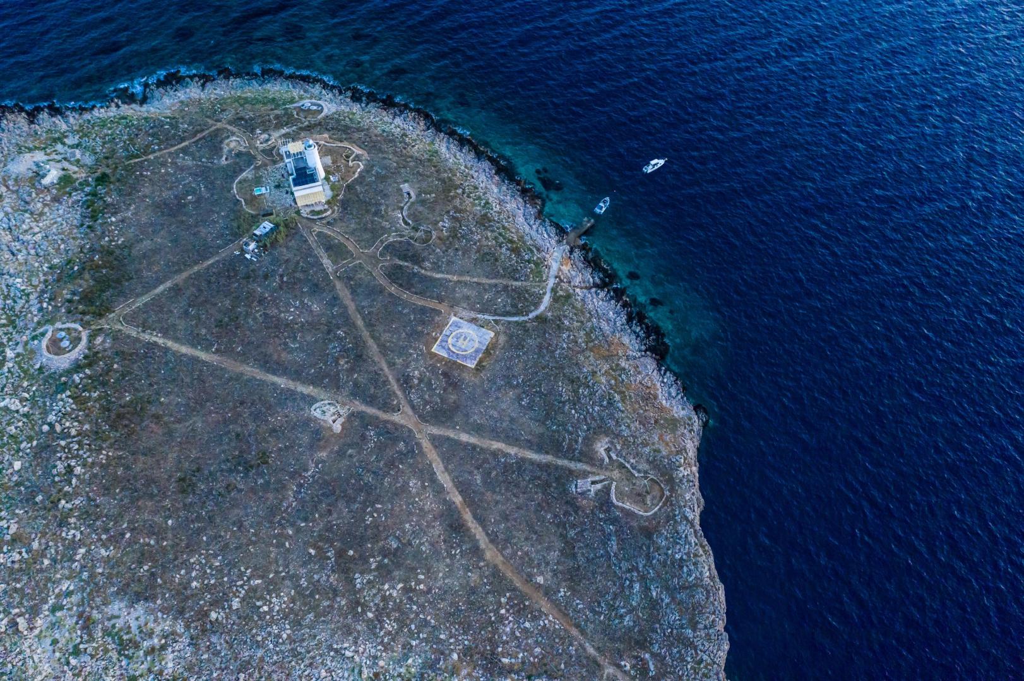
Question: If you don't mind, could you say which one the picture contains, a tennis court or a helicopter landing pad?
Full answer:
I can see a helicopter landing pad in this picture.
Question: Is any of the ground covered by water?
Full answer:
Yes, the picture does contain water.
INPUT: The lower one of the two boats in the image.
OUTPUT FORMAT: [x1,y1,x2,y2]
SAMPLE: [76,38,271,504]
[594,196,609,214]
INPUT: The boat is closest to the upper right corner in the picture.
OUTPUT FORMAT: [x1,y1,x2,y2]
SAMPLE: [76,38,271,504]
[643,158,668,174]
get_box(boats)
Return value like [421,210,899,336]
[643,158,668,174]
[594,196,609,214]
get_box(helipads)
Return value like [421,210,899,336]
[432,317,494,368]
